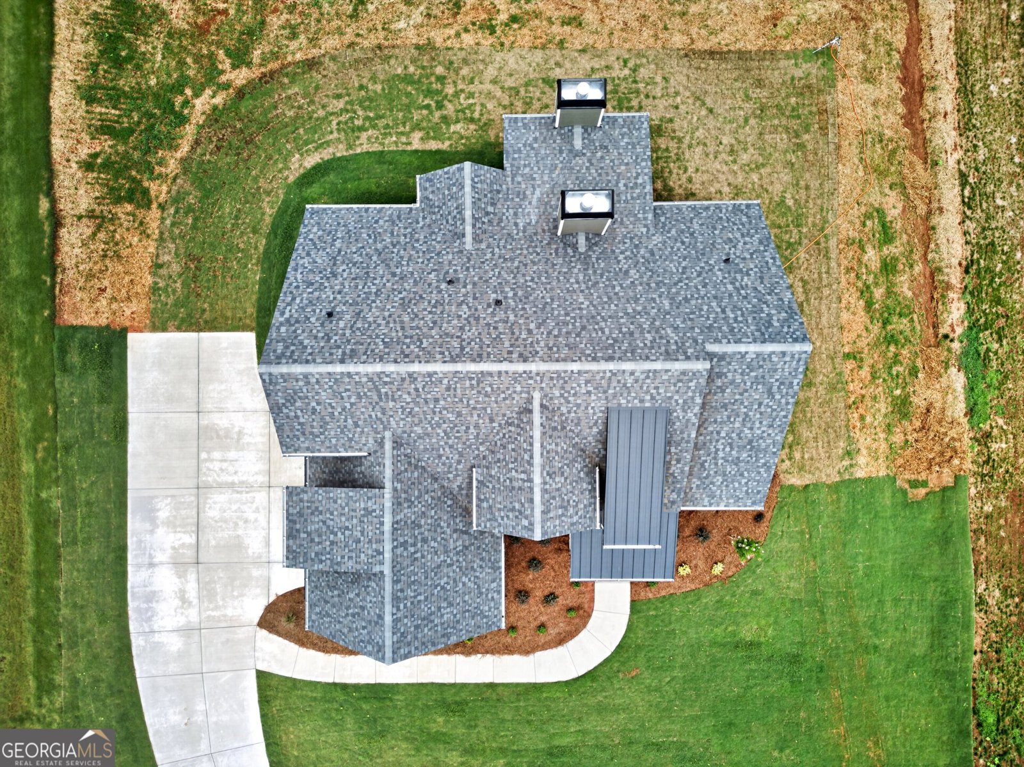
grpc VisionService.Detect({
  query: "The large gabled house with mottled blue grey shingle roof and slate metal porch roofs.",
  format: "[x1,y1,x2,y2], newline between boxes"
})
[257,78,810,665]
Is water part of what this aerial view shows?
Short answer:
No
